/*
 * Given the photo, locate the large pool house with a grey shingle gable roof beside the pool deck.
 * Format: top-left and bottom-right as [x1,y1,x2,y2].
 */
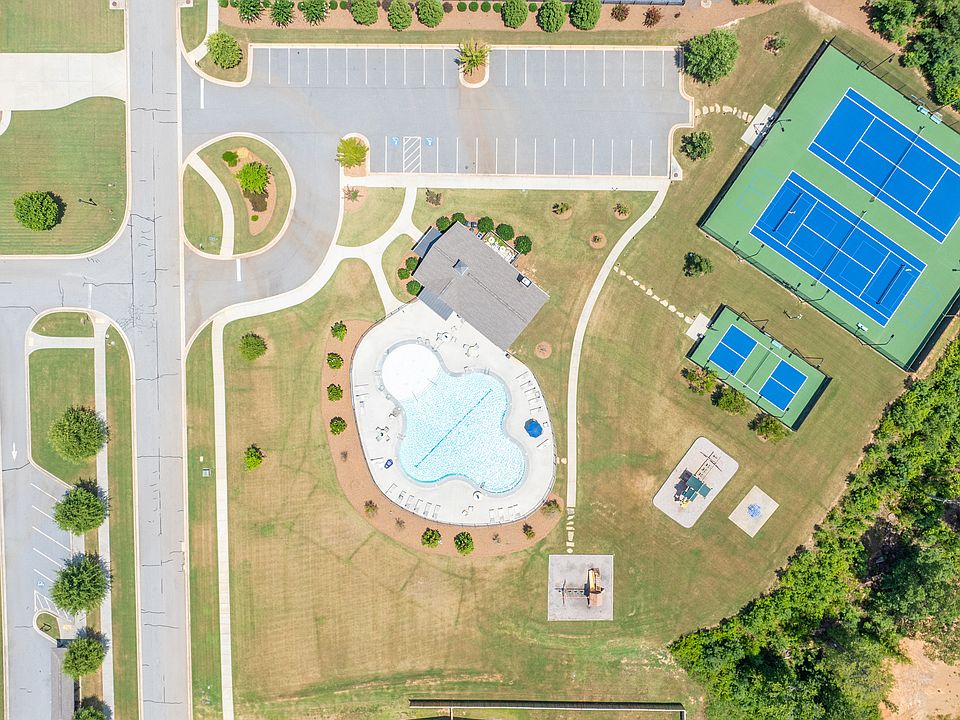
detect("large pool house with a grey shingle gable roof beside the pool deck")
[412,220,549,352]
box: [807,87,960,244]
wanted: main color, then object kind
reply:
blue tennis court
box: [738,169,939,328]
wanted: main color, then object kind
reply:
blue tennis court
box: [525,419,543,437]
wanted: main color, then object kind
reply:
blue umbrella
